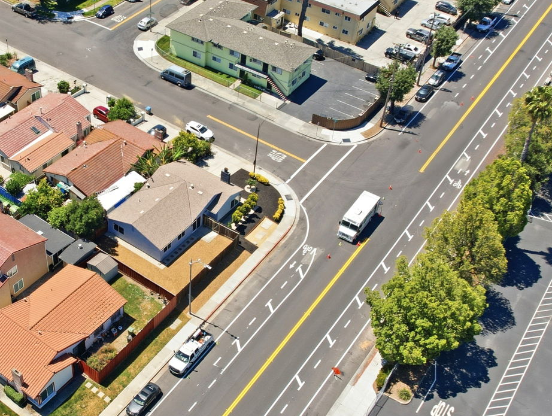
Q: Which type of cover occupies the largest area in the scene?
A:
paved ground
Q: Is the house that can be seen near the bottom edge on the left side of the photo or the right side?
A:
left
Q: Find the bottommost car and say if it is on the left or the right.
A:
left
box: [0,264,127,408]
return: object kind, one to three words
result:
house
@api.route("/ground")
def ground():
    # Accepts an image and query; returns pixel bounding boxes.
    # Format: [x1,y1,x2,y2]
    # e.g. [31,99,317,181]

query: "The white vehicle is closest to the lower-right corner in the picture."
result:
[340,186,384,237]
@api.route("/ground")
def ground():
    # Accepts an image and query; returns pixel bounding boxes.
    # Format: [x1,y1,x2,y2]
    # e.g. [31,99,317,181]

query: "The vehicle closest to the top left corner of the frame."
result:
[11,1,37,17]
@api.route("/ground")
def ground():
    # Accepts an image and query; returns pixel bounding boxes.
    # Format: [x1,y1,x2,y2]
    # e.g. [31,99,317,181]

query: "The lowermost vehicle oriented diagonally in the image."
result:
[123,379,164,416]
